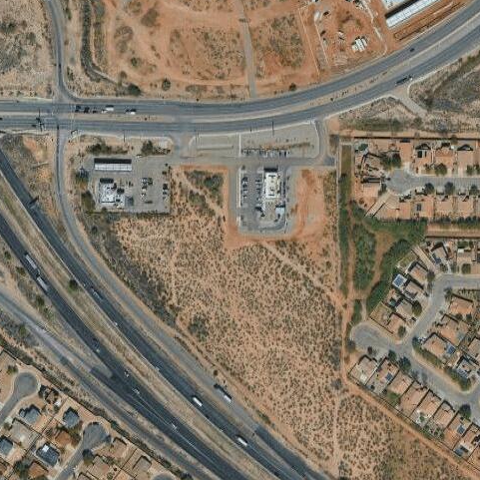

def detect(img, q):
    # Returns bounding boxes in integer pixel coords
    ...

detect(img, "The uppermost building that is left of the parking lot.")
[100,183,133,208]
